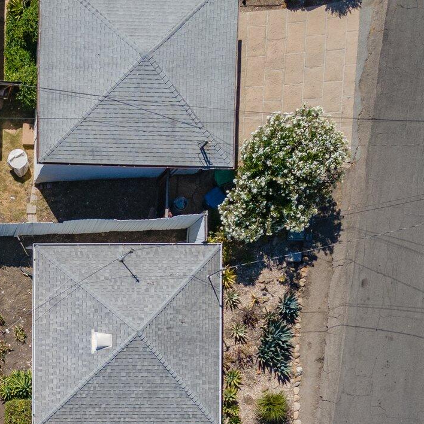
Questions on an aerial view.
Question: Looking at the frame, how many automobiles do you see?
zero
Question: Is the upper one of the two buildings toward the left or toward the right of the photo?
left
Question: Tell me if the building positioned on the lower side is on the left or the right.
left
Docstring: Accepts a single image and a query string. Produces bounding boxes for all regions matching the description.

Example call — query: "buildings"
[29,240,225,424]
[34,0,240,182]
